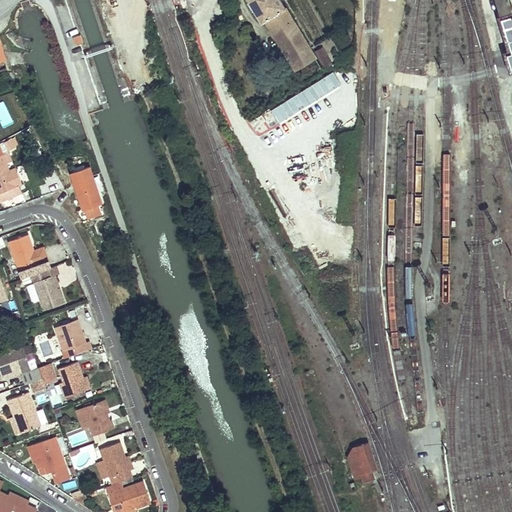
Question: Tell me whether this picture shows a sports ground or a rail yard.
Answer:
rail yard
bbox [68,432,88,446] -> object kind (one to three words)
swimming pool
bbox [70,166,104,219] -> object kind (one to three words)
house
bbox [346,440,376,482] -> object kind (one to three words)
building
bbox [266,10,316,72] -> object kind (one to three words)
barn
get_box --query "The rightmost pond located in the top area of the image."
[18,5,84,138]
